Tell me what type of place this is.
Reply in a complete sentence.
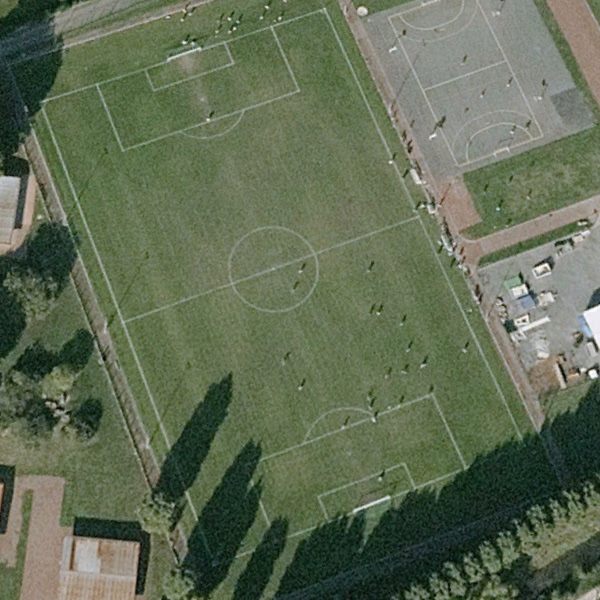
The picture captures a sports ground.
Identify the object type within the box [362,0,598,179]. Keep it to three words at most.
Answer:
sports court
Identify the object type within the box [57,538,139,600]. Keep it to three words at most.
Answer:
building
